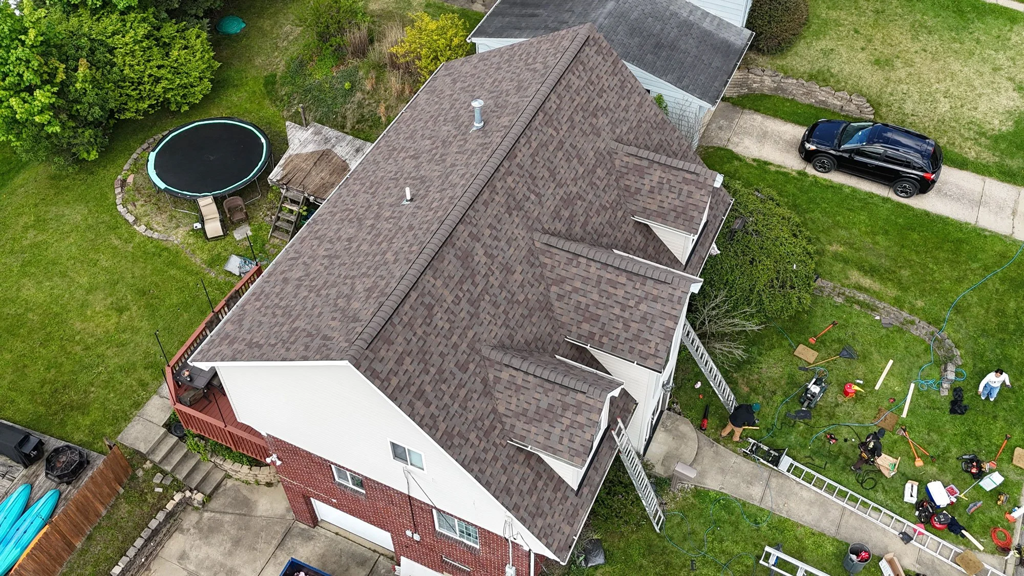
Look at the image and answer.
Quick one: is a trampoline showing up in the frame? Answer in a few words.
Yes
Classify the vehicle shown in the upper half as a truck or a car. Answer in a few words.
car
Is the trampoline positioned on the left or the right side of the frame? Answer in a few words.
left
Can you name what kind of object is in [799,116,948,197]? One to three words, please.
car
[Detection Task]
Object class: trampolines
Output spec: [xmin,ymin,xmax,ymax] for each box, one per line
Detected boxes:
[147,118,276,219]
